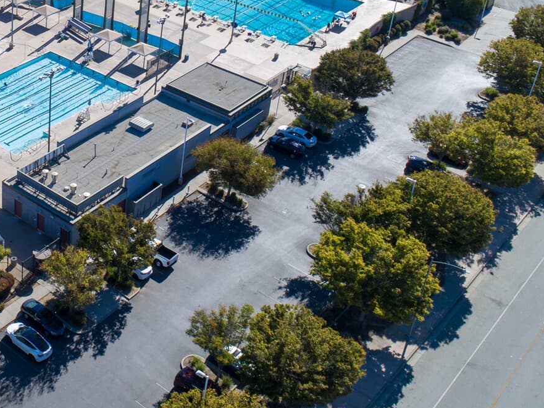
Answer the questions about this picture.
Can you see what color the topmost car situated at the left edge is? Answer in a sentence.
The topmost car situated at the left edge looks black in the image.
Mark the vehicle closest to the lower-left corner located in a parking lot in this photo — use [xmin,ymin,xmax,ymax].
[5,318,56,357]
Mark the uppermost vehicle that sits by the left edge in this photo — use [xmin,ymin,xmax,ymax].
[22,296,71,333]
